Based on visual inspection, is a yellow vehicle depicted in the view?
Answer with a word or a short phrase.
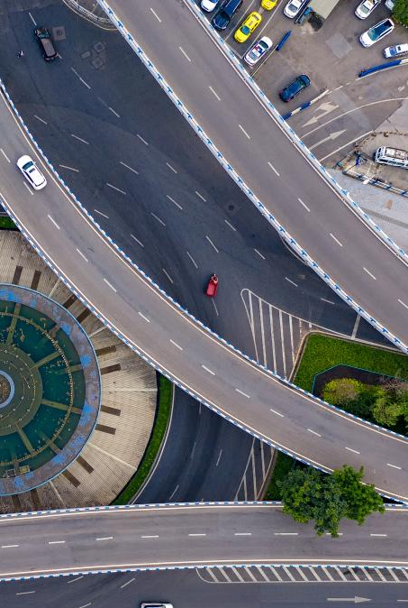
Yes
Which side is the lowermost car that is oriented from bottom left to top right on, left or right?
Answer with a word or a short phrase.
right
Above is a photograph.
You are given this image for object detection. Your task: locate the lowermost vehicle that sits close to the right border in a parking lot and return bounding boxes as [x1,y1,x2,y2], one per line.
[370,149,408,171]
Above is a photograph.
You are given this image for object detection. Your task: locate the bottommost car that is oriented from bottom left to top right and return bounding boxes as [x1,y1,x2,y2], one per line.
[278,75,307,102]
